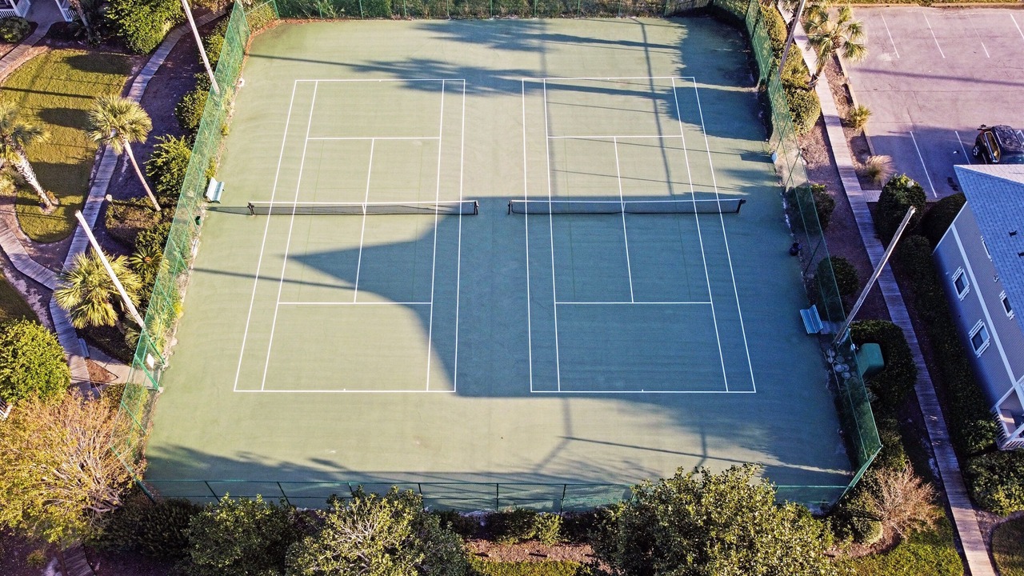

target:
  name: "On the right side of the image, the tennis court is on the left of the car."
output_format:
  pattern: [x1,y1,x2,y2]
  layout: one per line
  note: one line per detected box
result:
[493,15,856,511]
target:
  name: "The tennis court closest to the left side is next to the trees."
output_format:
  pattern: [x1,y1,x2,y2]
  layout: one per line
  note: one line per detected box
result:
[145,19,495,511]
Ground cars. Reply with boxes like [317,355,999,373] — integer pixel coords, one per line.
[977,129,1024,165]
